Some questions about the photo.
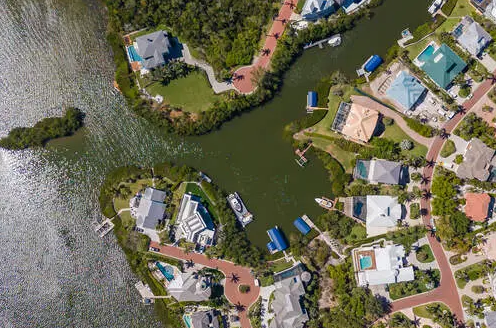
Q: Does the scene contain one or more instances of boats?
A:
Yes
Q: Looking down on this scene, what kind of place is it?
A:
residential area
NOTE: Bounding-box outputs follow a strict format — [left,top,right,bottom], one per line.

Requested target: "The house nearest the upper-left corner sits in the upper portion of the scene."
[136,29,177,69]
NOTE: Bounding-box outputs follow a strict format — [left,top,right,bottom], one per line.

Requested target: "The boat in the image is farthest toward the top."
[426,0,441,16]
